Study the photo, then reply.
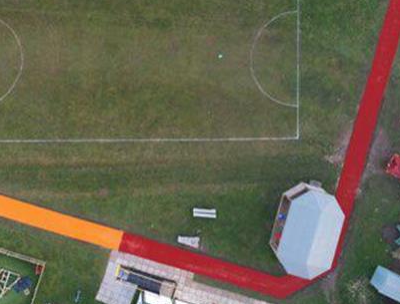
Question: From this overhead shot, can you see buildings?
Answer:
Yes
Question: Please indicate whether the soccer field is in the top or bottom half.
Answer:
top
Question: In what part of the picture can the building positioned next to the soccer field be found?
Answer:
bottom right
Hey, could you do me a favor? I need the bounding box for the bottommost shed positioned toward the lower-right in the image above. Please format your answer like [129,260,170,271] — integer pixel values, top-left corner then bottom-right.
[359,258,400,302]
